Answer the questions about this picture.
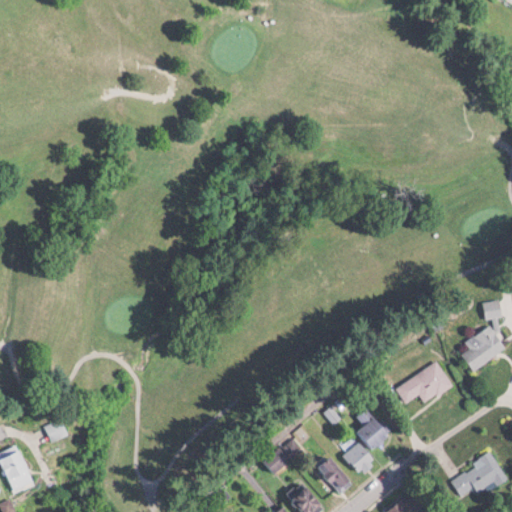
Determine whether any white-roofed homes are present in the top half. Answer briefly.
No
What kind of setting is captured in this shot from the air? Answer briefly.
golf course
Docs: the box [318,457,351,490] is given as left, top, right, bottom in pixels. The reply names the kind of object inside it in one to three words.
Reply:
house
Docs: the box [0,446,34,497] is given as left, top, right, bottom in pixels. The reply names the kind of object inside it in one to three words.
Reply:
house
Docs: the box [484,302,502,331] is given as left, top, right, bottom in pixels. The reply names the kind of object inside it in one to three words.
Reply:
building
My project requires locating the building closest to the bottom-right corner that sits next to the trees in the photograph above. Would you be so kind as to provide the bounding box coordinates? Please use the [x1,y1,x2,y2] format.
[452,454,504,499]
